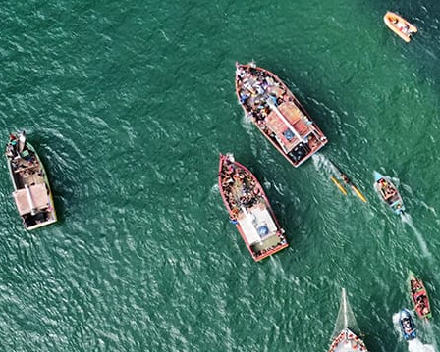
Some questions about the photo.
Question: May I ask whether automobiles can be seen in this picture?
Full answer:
No, there is no automobile in the image.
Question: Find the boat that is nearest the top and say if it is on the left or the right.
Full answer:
It is on the right.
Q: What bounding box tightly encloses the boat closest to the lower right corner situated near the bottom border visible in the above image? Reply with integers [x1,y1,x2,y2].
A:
[397,310,417,343]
